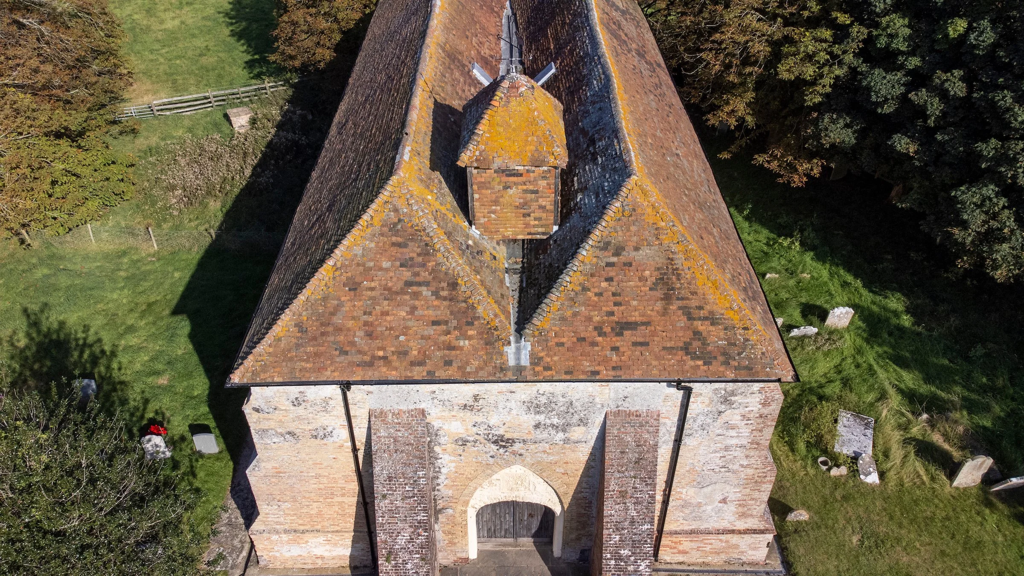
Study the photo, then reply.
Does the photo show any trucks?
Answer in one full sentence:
No, no truck is visible in the view.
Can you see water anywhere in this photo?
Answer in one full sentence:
No, the picture contains no water.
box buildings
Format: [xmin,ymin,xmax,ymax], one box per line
[221,0,802,576]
